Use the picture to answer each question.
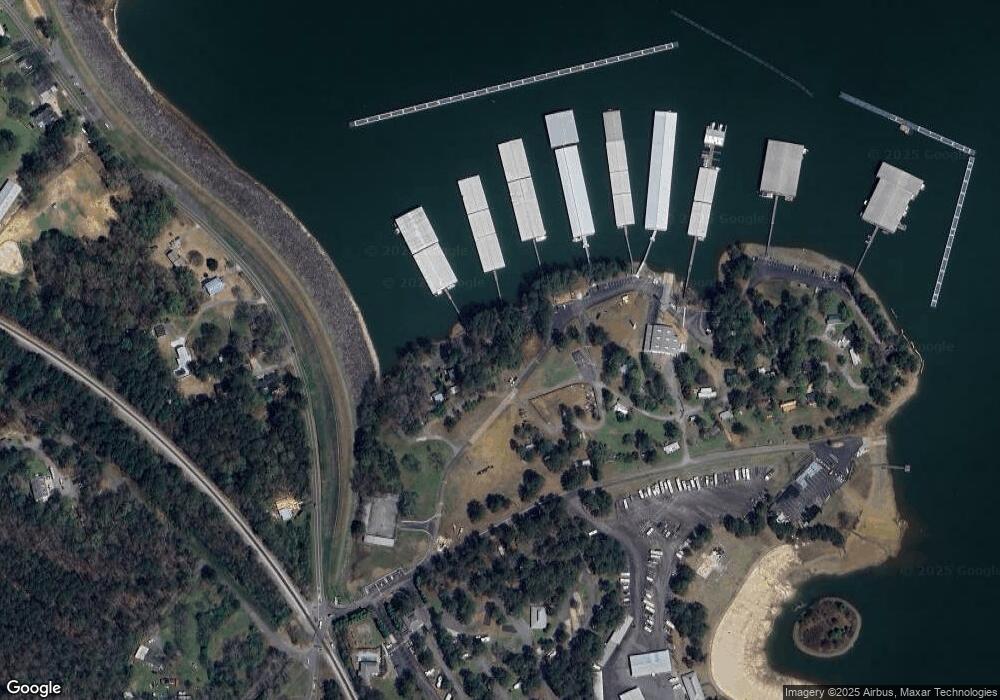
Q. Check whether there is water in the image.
Yes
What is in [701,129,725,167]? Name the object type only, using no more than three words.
pier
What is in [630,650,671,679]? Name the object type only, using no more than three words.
building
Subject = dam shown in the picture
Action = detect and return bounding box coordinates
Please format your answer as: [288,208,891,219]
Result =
[26,0,385,597]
